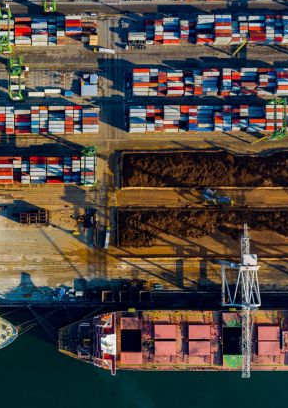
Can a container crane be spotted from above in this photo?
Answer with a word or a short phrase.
Yes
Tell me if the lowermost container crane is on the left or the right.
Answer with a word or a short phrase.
right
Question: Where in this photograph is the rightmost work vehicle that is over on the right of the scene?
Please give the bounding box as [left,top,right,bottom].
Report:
[202,188,232,203]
